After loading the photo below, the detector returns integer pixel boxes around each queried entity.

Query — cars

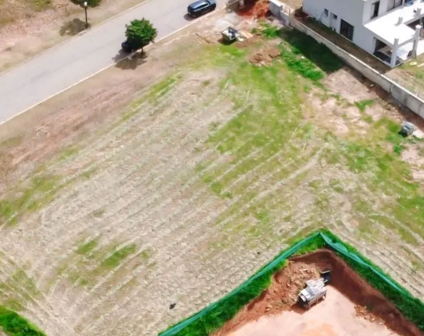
[120,38,152,55]
[185,0,216,19]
